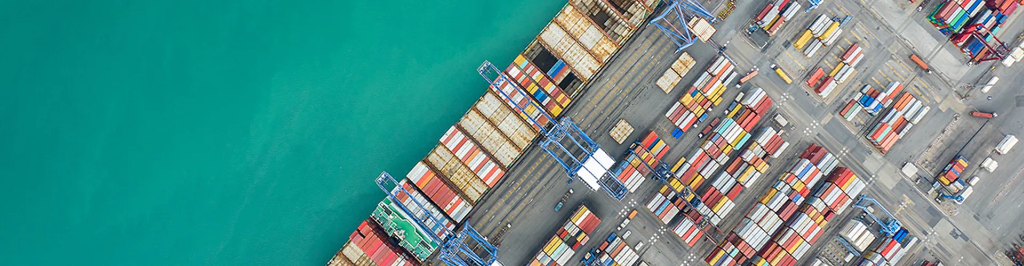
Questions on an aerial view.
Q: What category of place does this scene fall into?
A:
port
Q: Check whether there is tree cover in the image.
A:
No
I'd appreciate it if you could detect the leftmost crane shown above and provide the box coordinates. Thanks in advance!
[374,171,510,266]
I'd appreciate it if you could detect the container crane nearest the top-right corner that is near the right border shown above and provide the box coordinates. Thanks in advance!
[948,24,1007,65]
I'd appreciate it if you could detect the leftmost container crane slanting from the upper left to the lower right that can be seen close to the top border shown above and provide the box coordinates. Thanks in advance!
[647,0,742,70]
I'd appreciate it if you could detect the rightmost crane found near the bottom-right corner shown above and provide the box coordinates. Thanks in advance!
[846,196,905,242]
